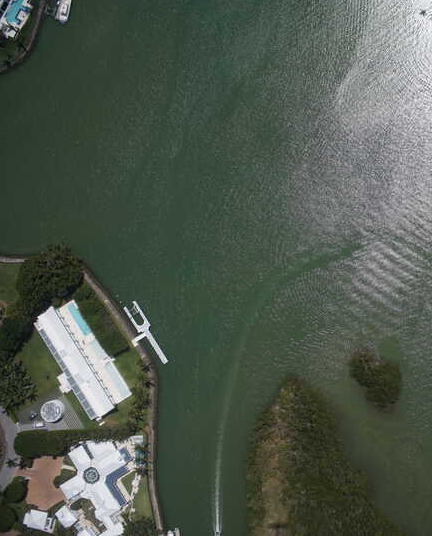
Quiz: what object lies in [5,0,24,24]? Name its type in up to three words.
swimming pool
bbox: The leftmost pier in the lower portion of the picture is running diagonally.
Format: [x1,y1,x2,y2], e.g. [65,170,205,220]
[124,301,169,363]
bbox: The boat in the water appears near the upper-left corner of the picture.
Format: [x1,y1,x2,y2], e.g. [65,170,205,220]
[57,0,69,22]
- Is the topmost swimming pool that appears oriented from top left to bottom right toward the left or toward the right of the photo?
left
